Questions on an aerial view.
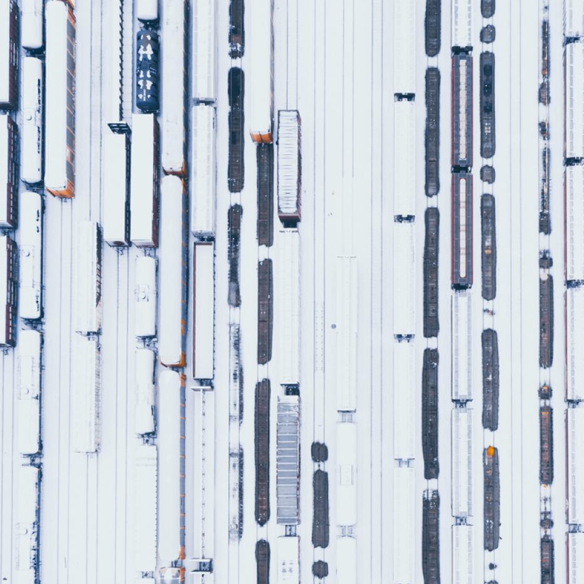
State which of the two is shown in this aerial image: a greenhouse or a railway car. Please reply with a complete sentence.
Visible in the photo is a railway car.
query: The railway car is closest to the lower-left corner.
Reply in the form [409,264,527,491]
[14,459,42,584]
